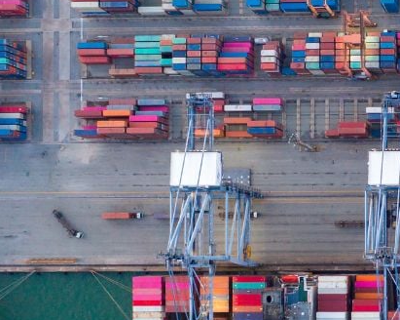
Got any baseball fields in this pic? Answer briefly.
No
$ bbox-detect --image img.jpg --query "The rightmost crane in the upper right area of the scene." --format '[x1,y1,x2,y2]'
[344,11,376,80]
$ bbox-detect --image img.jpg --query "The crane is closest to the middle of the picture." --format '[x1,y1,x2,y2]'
[163,90,272,320]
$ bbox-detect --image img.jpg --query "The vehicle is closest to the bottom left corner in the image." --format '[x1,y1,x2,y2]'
[53,209,86,239]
